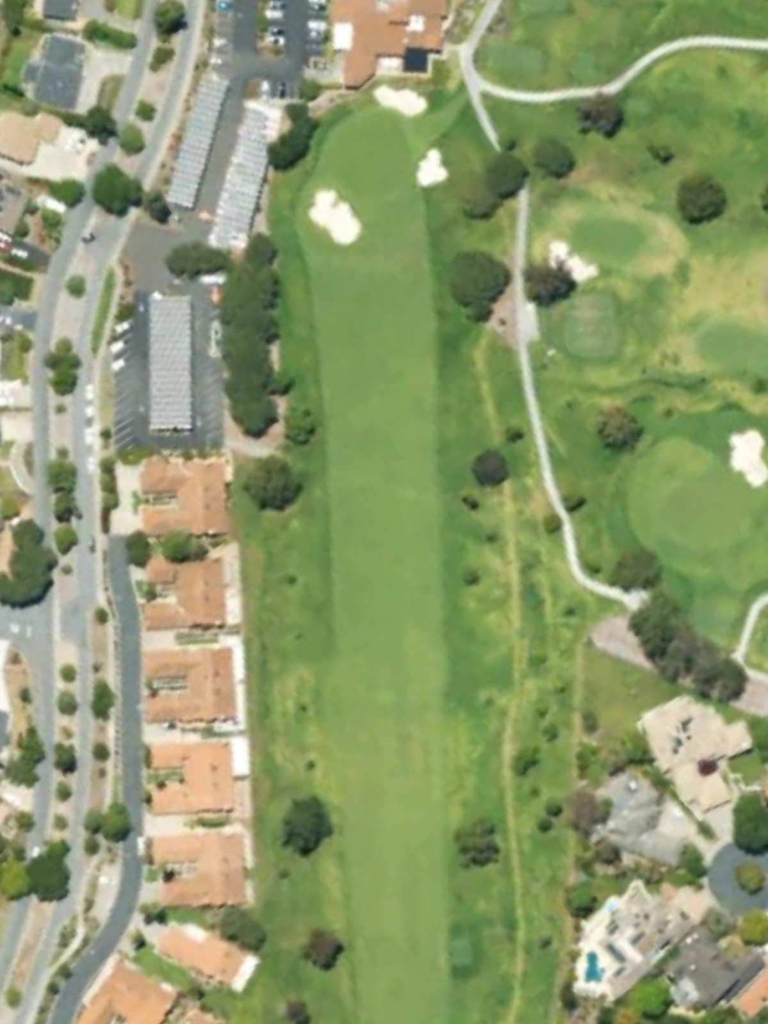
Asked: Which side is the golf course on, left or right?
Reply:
right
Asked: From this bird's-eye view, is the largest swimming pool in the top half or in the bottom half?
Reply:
bottom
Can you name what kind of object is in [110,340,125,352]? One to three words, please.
vehicle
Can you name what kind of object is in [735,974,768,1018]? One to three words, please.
house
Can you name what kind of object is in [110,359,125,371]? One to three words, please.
vehicle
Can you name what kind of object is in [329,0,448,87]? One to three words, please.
building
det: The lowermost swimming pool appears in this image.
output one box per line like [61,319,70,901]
[584,950,605,982]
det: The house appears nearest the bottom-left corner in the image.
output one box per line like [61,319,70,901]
[77,954,177,1024]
